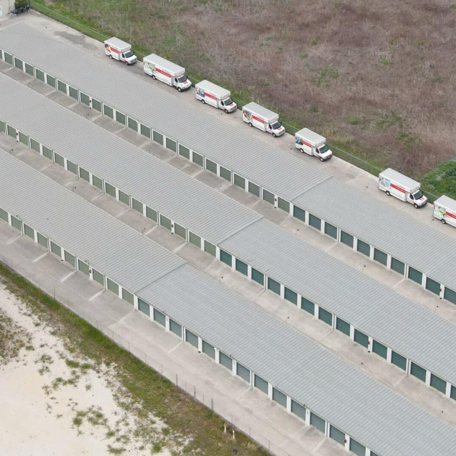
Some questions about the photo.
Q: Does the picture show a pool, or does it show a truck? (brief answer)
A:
truck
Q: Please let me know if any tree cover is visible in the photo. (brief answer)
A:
No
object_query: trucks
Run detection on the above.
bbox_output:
[290,128,333,162]
[428,195,456,229]
[142,54,191,91]
[103,36,138,65]
[239,103,285,138]
[374,168,428,209]
[193,80,236,114]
